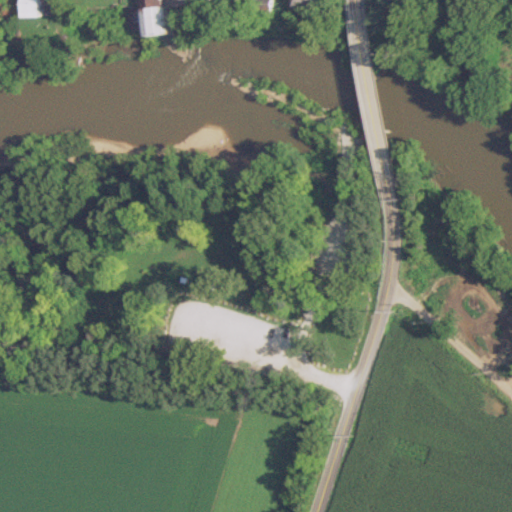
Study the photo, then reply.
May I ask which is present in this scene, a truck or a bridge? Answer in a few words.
bridge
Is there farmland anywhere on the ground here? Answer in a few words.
Yes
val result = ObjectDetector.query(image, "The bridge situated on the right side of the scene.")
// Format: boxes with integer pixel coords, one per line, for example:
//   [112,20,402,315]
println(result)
[348,12,390,172]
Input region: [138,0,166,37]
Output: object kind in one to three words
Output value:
house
